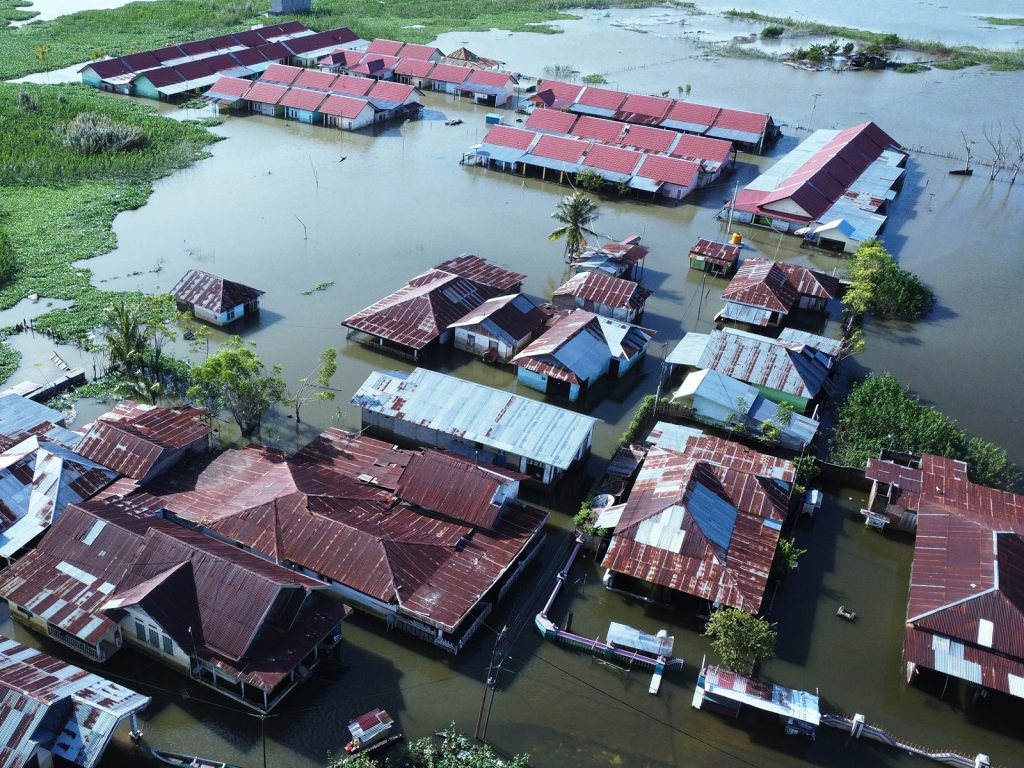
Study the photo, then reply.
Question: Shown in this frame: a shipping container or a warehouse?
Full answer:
There is a warehouse in the scene.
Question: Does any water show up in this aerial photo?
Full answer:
Yes, water can be seen from above here.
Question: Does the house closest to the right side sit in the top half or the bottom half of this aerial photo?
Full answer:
The house closest to the right side is in the bottom half of the image.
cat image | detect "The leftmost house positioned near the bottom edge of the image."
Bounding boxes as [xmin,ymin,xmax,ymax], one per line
[0,634,152,768]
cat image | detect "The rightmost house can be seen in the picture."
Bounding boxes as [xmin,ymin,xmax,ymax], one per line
[901,452,1024,705]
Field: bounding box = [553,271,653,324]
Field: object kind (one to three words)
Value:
house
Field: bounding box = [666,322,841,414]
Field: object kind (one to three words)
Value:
building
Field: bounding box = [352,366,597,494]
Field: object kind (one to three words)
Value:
warehouse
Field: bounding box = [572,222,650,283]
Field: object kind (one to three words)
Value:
shed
